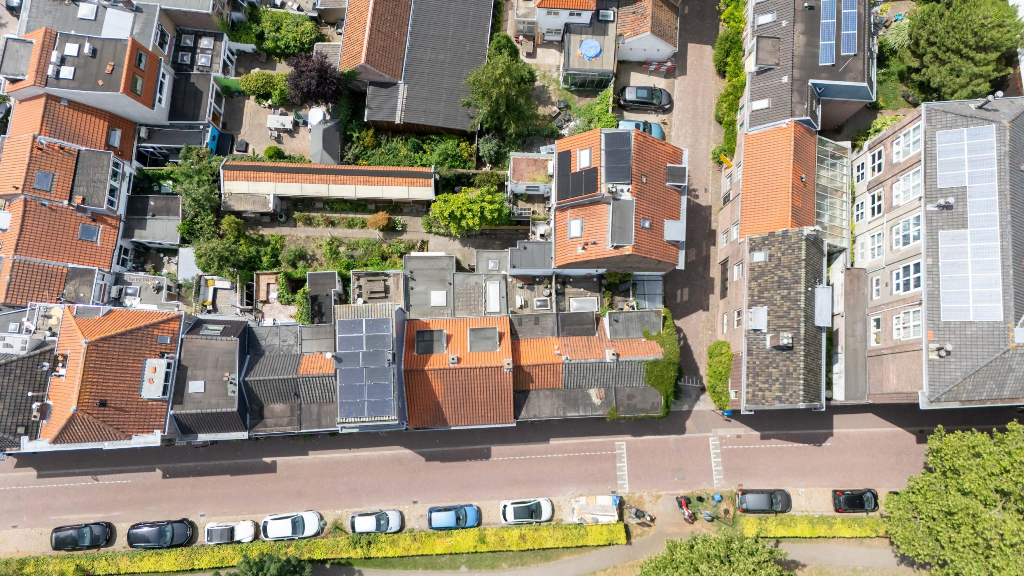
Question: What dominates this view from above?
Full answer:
For the most part, this view shows buildings.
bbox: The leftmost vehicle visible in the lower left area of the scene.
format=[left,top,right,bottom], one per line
[49,520,113,551]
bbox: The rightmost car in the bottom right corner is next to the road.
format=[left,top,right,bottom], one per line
[830,488,878,516]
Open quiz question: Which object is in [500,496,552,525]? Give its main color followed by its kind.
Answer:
white car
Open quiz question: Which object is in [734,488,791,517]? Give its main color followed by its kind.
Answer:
gray car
